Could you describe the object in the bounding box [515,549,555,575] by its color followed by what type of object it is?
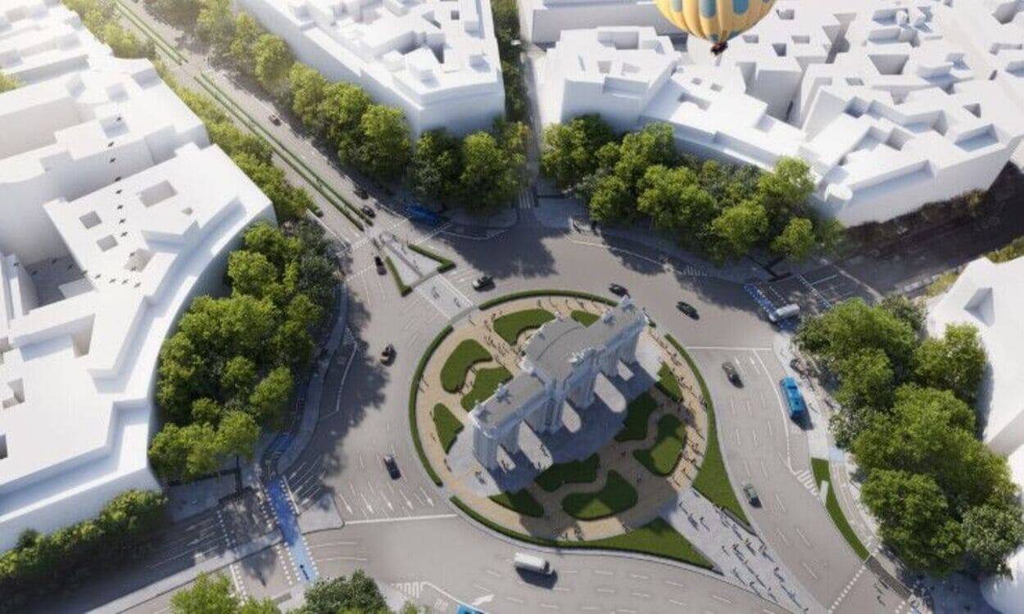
white truck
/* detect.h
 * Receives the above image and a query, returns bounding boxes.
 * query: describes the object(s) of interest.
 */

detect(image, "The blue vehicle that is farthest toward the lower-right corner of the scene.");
[782,370,808,414]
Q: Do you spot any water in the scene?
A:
No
